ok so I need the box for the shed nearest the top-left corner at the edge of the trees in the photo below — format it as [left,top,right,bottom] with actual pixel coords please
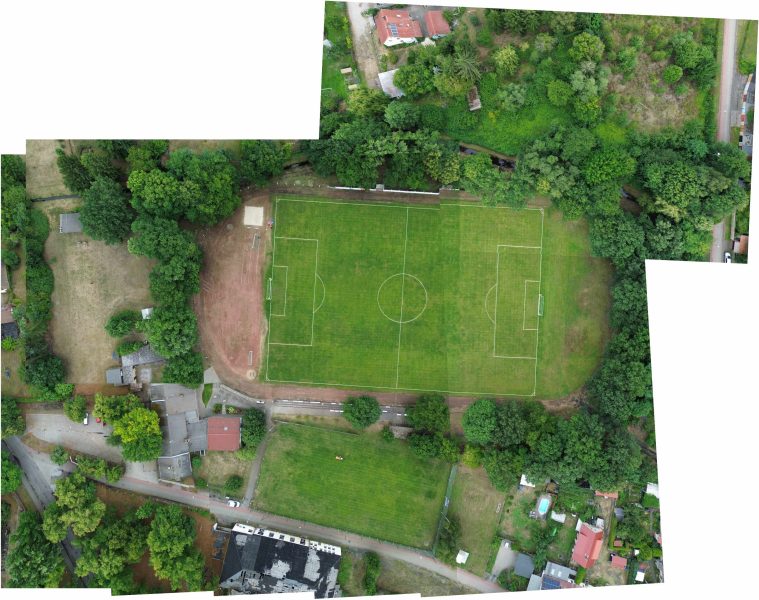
[60,213,85,233]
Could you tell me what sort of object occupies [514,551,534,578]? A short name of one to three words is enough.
building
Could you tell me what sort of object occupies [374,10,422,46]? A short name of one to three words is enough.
house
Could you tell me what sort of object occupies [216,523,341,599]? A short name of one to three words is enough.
building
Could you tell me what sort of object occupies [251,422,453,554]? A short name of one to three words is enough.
sports field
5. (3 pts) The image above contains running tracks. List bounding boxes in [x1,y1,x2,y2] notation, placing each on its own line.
[196,188,614,407]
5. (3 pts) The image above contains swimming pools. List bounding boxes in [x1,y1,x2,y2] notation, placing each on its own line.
[537,495,551,520]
